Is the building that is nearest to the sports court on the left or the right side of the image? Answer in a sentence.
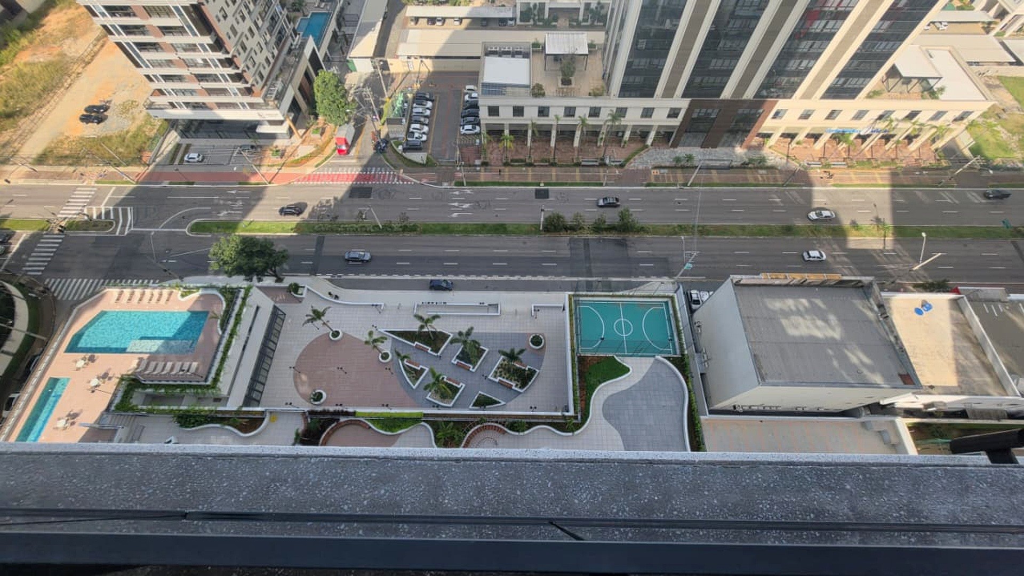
The building that is nearest to the sports court appears in the right half of the scene.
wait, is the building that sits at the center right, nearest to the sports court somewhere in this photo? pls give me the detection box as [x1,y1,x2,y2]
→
[694,270,923,409]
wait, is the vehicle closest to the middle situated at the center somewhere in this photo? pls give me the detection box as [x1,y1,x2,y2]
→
[429,279,453,291]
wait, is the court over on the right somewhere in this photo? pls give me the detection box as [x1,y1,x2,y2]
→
[576,301,680,356]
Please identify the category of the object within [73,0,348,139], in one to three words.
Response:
building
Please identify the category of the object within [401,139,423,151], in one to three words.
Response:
vehicle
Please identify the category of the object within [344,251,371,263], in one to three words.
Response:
vehicle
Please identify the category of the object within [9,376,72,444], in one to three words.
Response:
swimming pool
